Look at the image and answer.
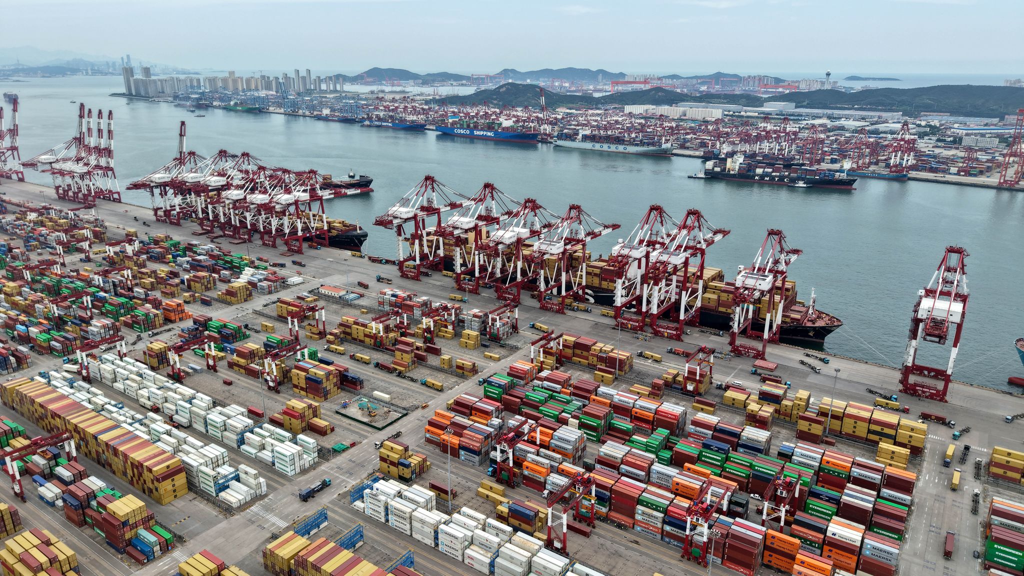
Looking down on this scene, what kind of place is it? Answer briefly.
port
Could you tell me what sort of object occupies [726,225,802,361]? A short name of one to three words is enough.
container crane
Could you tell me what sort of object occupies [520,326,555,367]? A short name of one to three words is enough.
container crane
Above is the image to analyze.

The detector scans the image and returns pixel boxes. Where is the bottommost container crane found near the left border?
[5,424,86,500]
